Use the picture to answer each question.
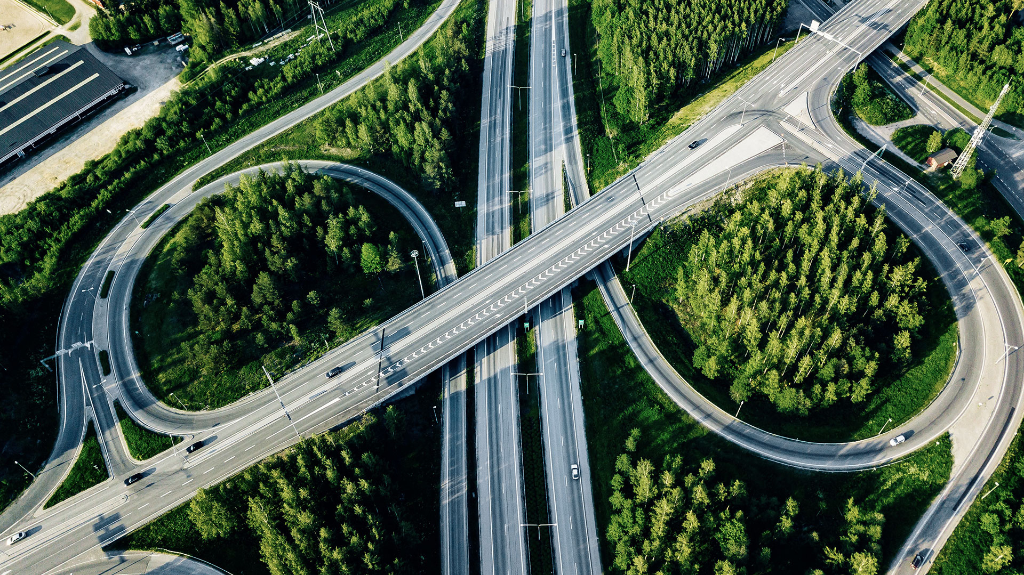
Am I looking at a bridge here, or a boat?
bridge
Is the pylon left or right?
left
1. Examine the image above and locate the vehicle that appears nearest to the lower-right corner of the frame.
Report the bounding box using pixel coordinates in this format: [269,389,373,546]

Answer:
[911,551,926,569]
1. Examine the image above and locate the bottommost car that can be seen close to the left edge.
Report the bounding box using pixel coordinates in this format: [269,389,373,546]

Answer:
[5,530,24,544]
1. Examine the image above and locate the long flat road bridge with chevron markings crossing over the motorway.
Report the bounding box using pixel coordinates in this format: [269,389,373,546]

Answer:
[369,169,655,400]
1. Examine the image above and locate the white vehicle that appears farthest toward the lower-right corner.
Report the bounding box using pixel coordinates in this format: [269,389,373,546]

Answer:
[889,433,907,445]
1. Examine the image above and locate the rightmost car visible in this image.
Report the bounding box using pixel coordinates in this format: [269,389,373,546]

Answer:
[957,239,971,251]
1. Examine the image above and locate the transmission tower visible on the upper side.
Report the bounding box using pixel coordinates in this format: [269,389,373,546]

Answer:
[307,0,332,49]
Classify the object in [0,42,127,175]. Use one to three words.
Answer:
building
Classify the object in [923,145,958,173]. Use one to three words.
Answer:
shed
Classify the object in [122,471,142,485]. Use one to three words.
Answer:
car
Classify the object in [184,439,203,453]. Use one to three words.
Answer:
car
